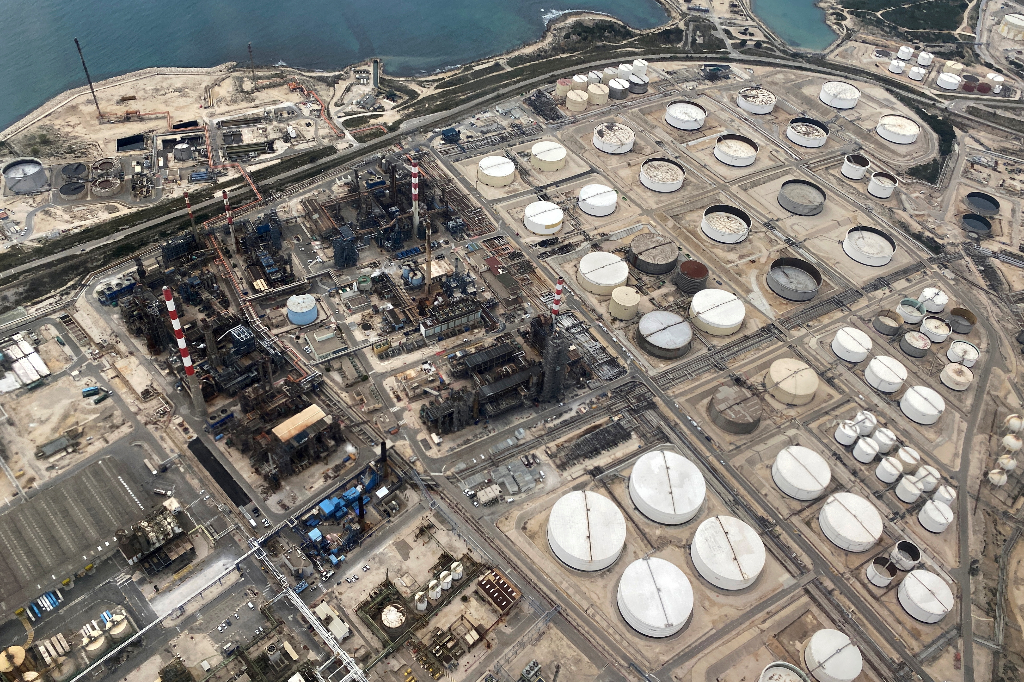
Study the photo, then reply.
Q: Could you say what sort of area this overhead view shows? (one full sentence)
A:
The area seen from above is an industrial area.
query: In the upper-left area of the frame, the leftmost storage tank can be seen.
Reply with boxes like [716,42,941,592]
[1,157,53,194]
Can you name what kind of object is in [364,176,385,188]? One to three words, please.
cooling tower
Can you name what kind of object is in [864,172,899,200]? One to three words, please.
storage tank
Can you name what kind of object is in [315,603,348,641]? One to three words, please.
building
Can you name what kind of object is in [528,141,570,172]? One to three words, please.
storage tank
